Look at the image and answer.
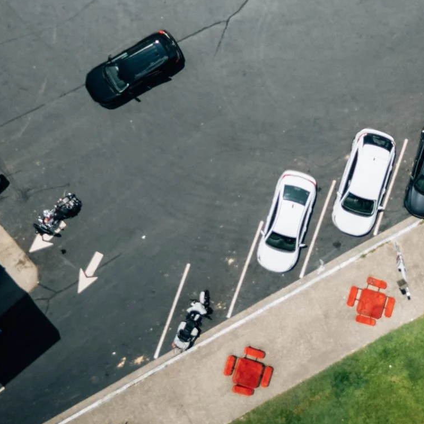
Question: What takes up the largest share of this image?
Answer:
paved ground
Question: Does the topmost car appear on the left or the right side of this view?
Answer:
left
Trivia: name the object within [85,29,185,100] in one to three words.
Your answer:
car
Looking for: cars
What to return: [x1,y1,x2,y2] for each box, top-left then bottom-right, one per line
[85,29,185,100]
[335,127,394,235]
[257,167,317,270]
[405,121,424,216]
